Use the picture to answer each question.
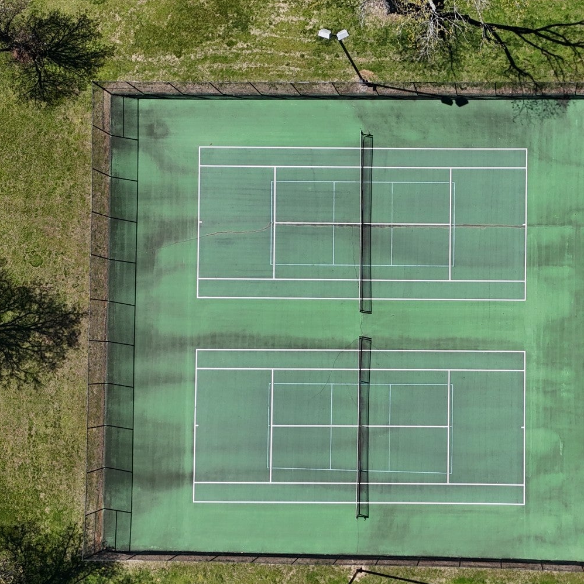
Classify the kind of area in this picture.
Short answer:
sports ground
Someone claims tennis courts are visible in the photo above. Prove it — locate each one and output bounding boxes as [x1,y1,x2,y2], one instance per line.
[197,146,528,301]
[193,344,525,504]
